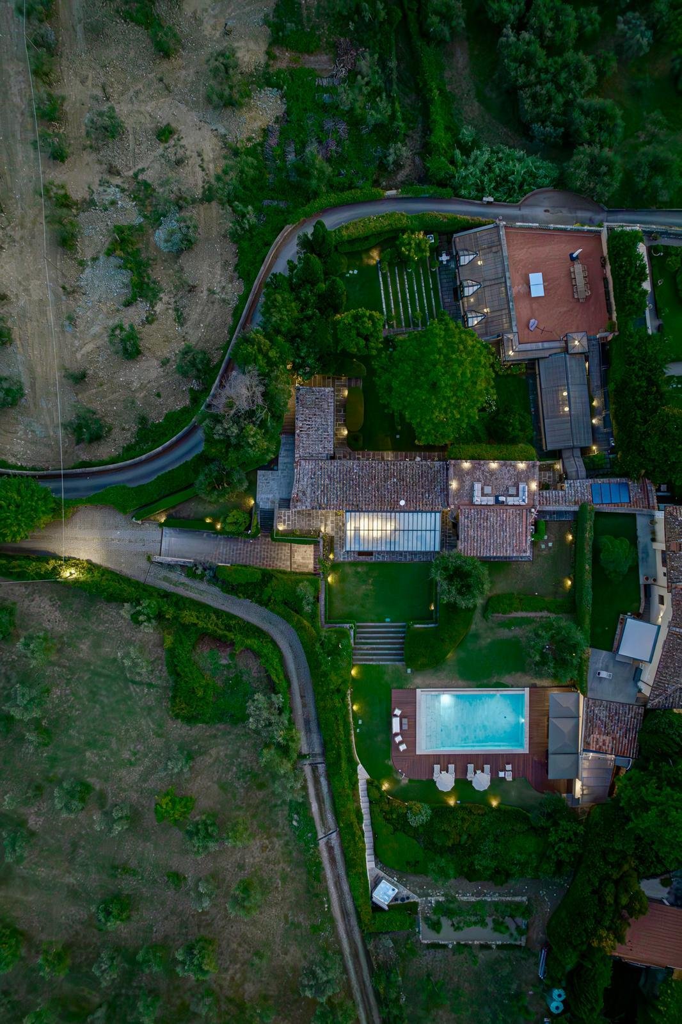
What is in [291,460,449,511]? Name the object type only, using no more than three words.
house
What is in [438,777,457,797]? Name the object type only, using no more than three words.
umbrella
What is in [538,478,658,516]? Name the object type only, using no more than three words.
shed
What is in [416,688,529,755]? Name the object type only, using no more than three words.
swimming pool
